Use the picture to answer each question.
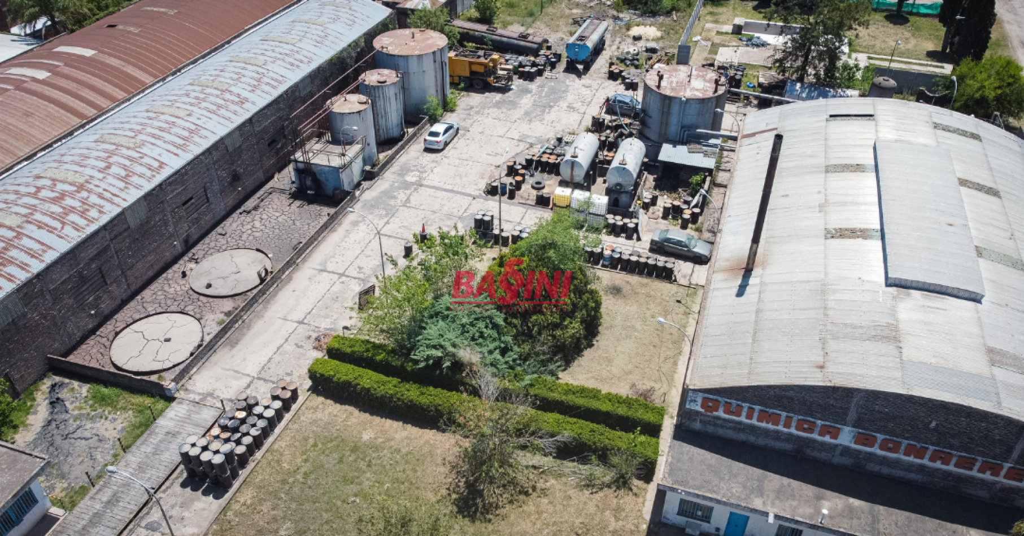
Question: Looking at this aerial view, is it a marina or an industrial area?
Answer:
industrial area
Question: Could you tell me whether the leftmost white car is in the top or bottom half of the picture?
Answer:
top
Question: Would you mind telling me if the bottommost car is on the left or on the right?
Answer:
right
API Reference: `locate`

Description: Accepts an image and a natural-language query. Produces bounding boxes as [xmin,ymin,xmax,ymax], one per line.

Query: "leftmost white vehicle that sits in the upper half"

[423,118,464,147]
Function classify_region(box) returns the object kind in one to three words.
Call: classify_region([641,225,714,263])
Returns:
car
